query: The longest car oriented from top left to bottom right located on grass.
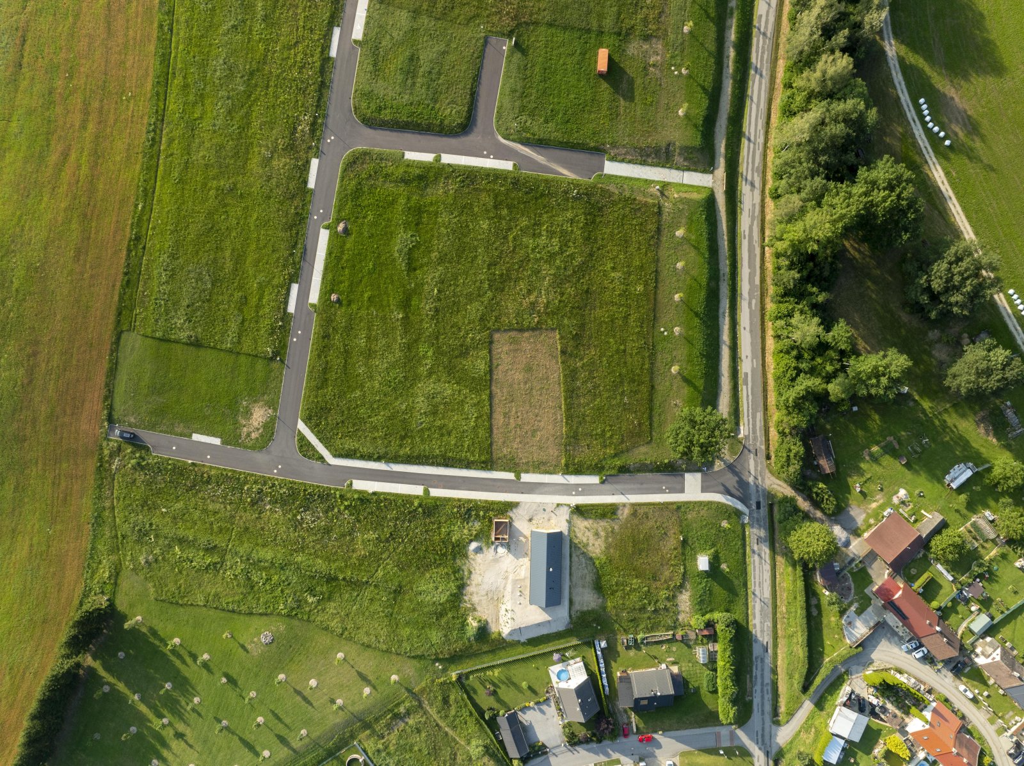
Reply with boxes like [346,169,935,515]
[959,685,976,701]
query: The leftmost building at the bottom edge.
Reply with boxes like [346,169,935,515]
[497,708,530,759]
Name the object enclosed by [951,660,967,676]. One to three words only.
car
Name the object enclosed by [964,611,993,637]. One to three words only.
shed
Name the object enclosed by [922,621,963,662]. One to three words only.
house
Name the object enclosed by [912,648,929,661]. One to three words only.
vehicle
